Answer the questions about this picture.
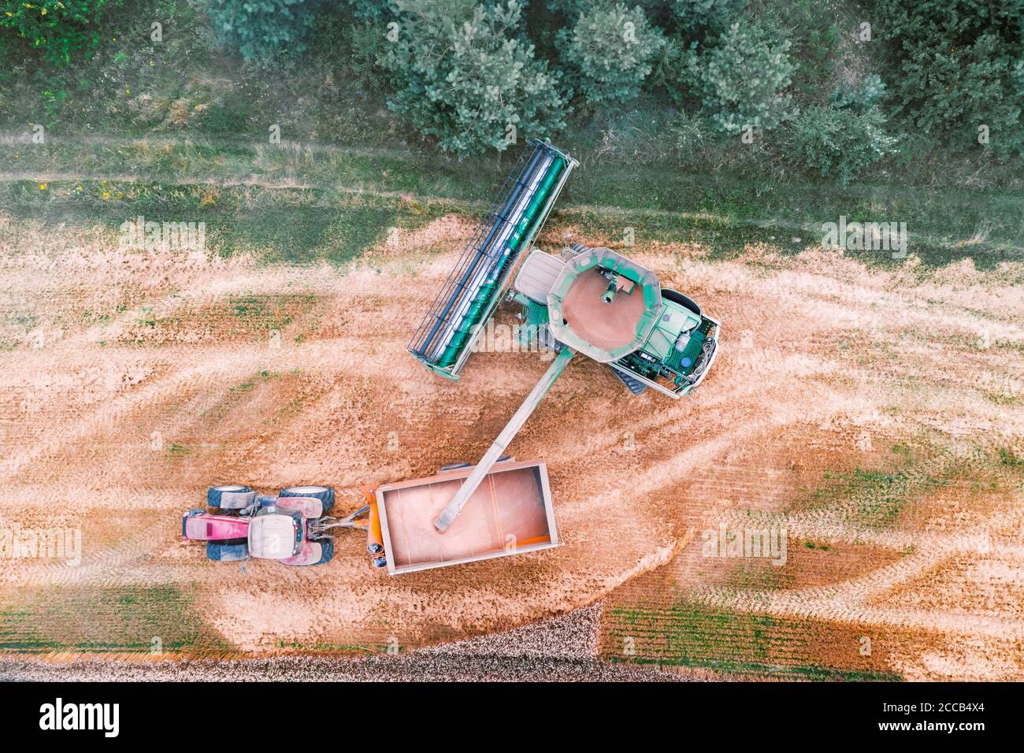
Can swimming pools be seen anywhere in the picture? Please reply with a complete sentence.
No, this view has no swimming pool in it.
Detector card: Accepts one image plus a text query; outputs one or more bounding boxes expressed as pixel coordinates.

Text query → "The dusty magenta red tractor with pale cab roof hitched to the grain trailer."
[178,485,344,571]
